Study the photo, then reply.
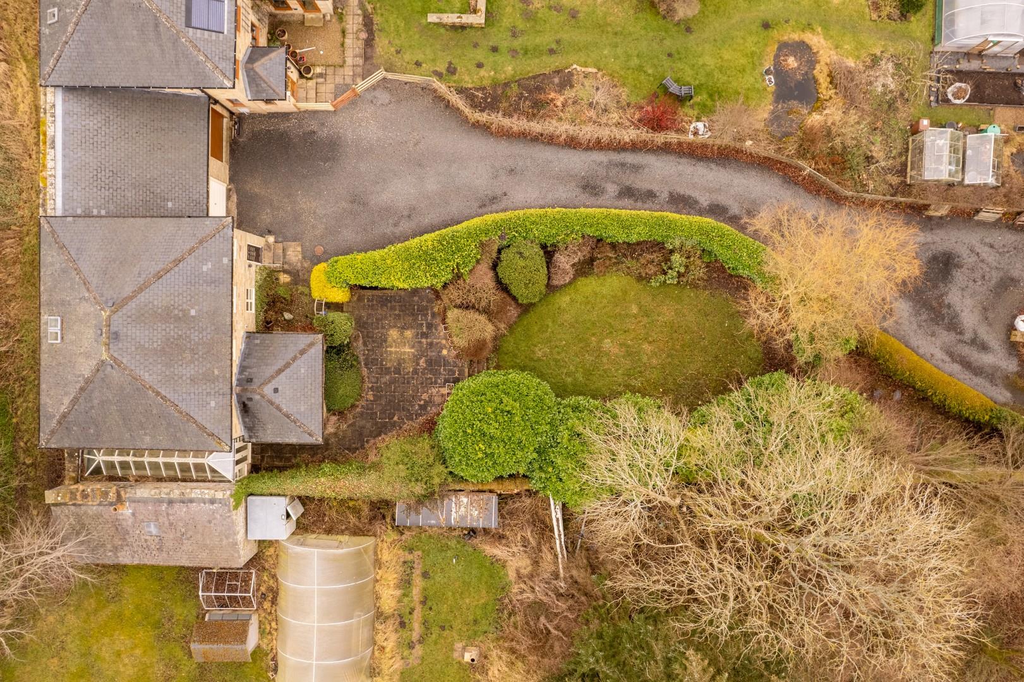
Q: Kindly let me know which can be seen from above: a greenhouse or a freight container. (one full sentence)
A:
Visible in the photo is a greenhouse.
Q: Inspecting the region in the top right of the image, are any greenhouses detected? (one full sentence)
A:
Yes, in the top right of the image there is a greenhouse.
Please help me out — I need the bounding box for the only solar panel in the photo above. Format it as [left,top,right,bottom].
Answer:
[186,0,227,32]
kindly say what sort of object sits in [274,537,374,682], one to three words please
greenhouse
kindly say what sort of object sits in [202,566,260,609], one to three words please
greenhouse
